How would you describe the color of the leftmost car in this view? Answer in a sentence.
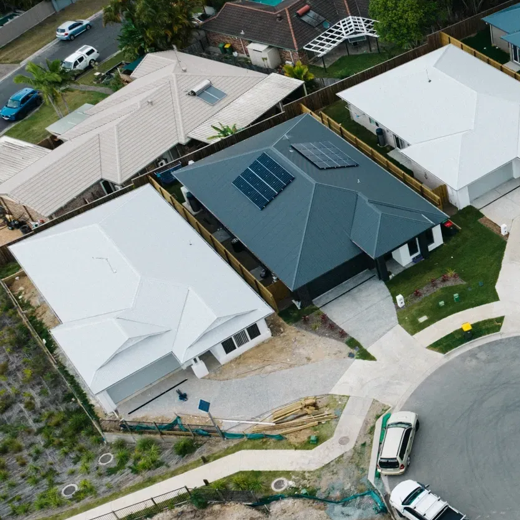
The leftmost car looks blue in the image.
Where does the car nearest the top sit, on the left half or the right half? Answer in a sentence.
The car nearest the top sits on the left side.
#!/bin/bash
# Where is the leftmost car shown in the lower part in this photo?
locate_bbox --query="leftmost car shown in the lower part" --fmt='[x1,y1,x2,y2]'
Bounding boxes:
[377,415,418,477]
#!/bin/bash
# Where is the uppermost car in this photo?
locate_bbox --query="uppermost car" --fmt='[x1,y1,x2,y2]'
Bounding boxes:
[55,20,93,40]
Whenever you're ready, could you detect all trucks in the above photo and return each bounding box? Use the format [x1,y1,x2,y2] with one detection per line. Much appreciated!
[56,43,103,74]
[390,478,467,520]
